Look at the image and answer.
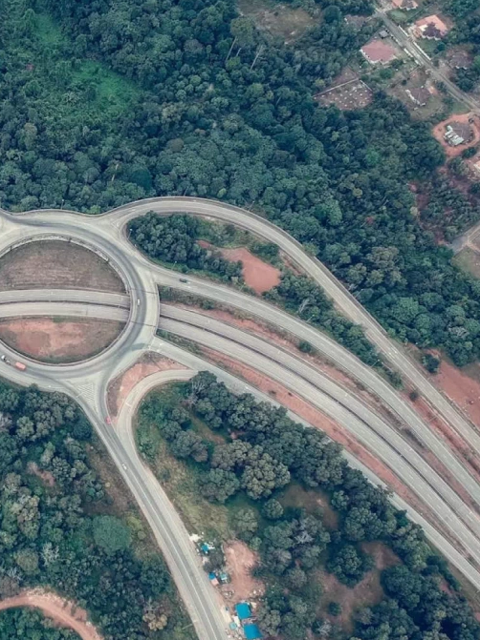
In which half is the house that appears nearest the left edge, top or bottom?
top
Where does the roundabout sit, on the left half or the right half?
left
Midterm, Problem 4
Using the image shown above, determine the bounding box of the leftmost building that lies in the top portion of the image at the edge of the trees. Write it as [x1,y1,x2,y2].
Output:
[341,10,370,30]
